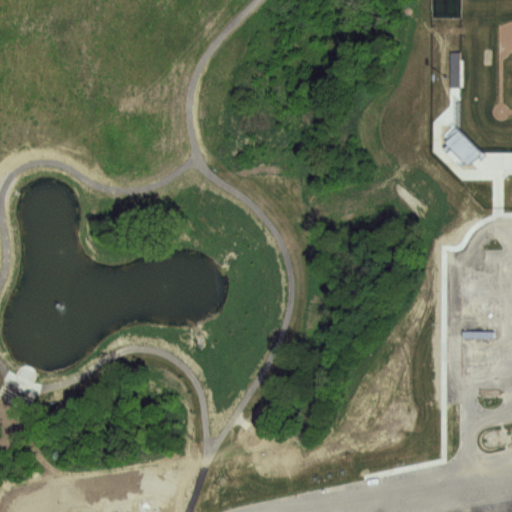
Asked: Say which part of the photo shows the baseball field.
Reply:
top right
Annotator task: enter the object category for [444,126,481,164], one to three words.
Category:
building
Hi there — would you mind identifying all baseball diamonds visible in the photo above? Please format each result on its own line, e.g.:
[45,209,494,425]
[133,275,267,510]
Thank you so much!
[462,0,512,151]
